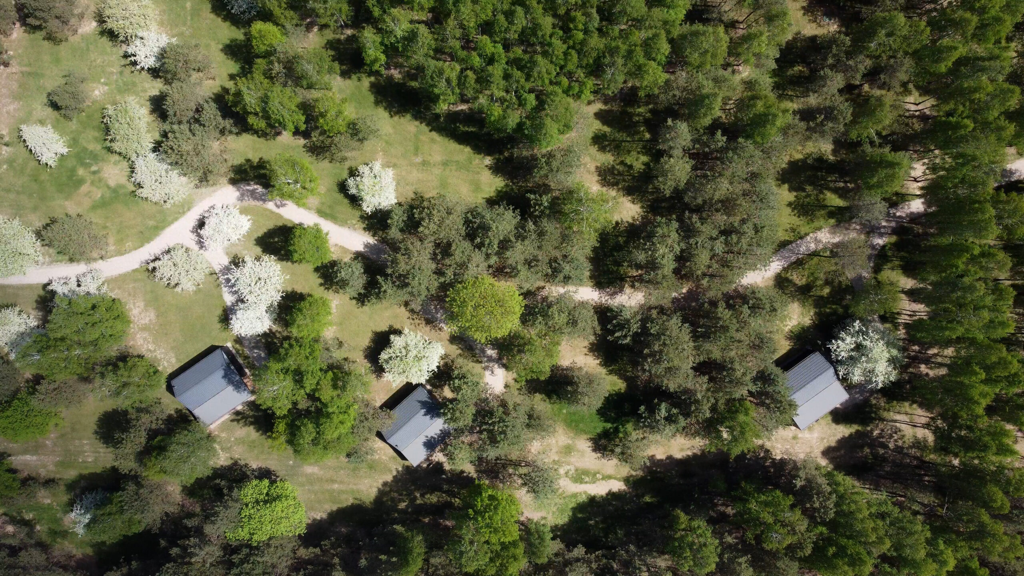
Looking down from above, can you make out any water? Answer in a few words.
No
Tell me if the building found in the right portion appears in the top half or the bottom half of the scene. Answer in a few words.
bottom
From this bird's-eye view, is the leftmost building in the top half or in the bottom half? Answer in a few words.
bottom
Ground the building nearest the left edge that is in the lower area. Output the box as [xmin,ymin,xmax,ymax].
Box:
[172,346,262,427]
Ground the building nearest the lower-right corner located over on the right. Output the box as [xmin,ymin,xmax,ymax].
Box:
[778,348,851,432]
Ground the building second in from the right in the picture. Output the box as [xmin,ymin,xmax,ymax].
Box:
[377,382,458,467]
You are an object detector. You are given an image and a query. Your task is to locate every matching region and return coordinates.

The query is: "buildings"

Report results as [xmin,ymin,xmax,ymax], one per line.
[778,348,851,432]
[377,382,458,467]
[172,346,262,427]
